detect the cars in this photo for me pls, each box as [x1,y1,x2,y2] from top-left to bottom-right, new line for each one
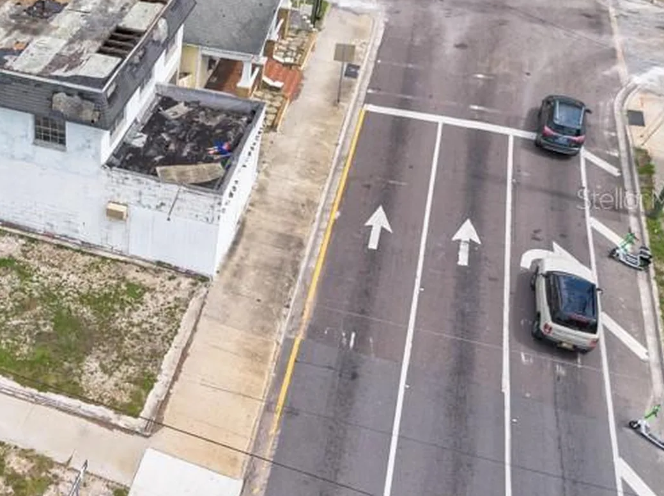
[535,255,611,355]
[543,89,599,151]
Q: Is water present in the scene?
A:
No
